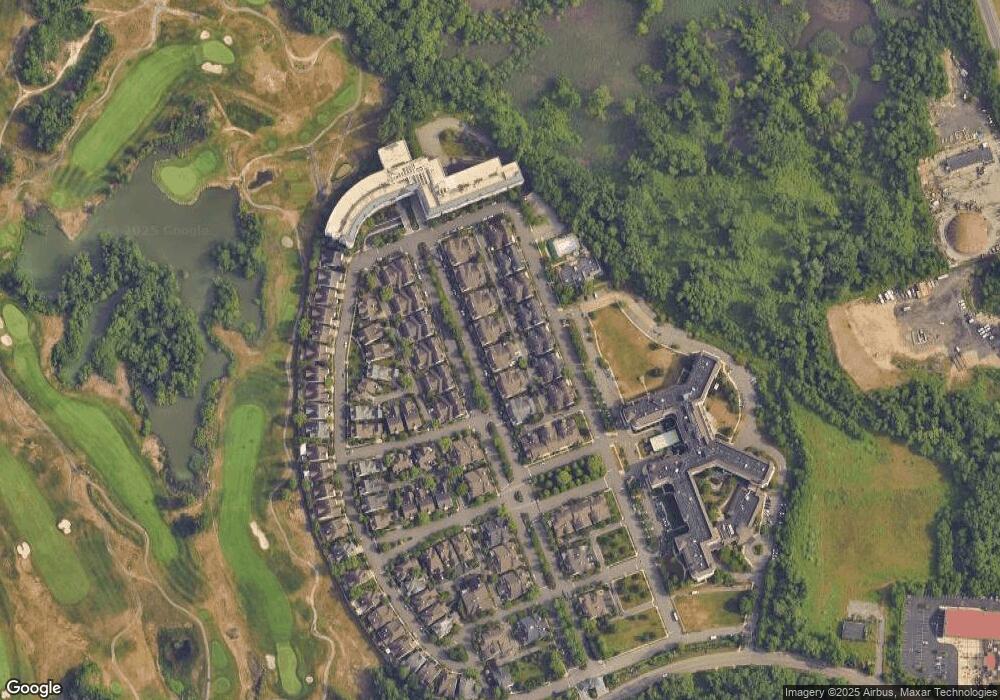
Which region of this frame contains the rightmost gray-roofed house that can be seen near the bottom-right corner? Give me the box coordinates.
[843,623,866,641]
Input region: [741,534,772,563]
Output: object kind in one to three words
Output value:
roundabout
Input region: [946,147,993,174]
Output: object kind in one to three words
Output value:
shed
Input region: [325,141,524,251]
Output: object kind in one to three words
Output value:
building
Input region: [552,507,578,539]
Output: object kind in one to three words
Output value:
house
